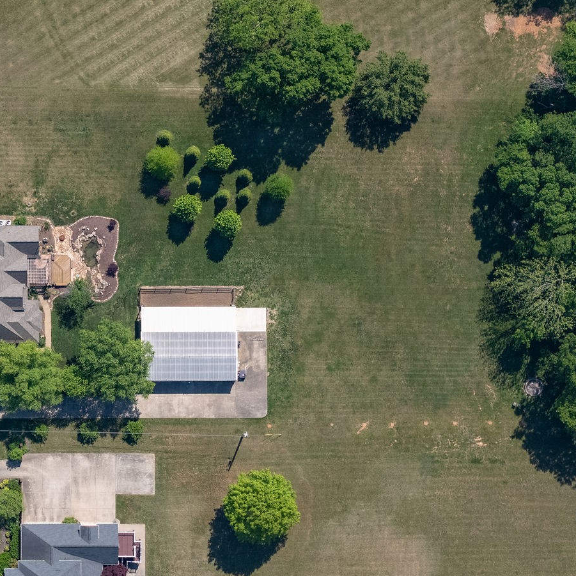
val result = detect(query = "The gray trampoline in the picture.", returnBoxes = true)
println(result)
[523,377,544,396]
